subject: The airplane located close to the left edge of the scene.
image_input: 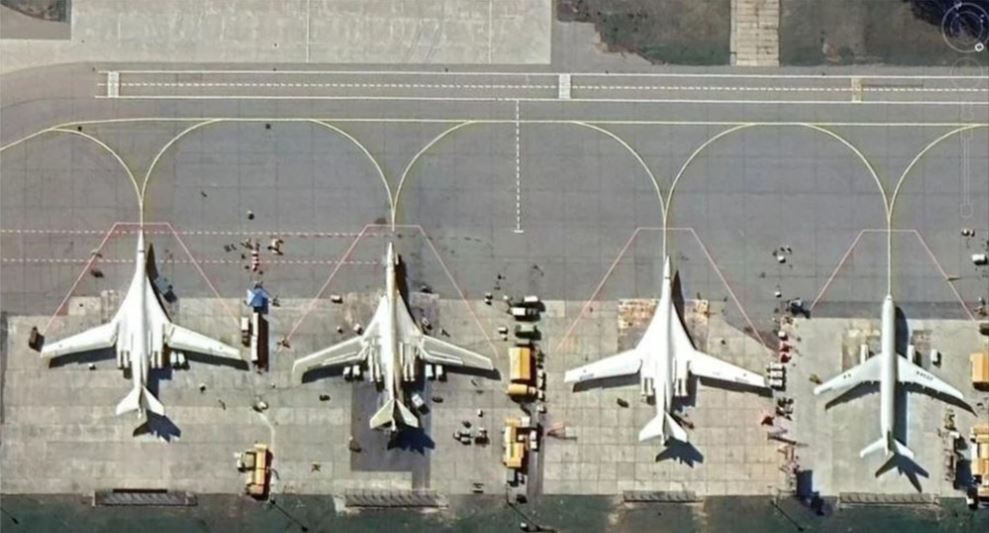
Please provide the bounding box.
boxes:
[39,230,240,418]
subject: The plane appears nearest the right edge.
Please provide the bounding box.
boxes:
[815,295,962,457]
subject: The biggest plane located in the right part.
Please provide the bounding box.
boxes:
[564,257,766,444]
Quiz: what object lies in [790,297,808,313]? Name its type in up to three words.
work vehicle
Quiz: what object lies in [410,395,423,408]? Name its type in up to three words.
vehicle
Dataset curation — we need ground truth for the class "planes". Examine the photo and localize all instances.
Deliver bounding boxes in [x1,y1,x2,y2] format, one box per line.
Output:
[292,241,494,431]
[39,230,240,418]
[564,257,766,444]
[815,295,962,457]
